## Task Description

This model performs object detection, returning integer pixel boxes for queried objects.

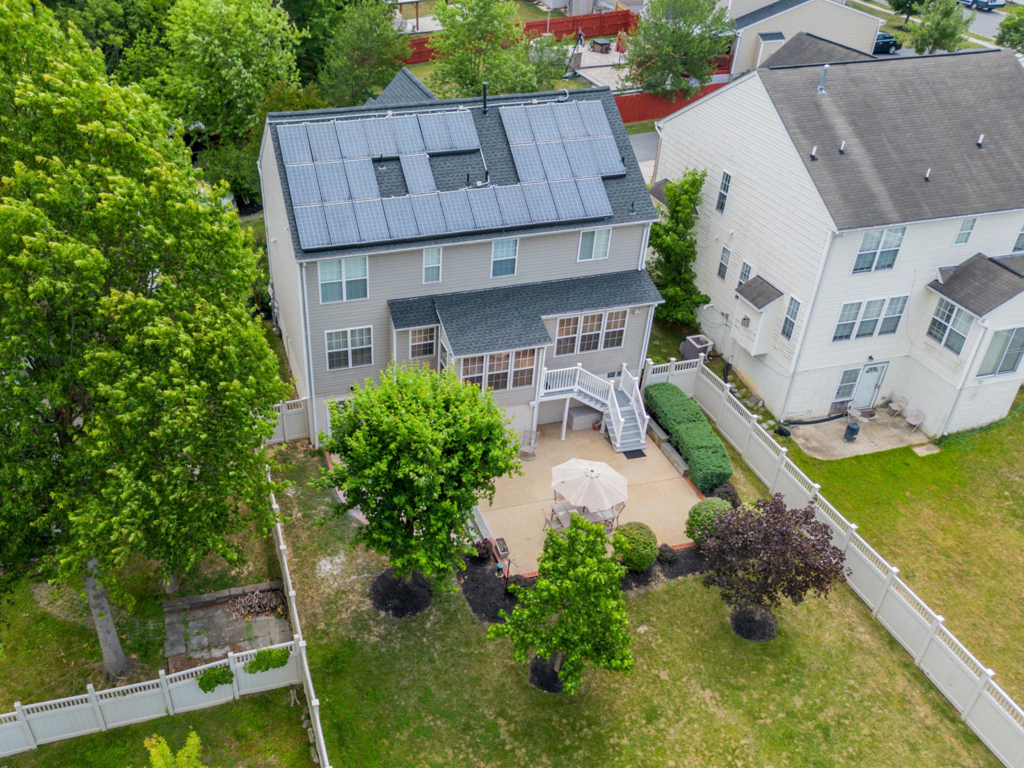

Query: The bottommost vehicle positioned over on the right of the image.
[872,29,912,52]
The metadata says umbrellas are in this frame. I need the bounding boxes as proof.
[613,27,626,67]
[549,459,630,515]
